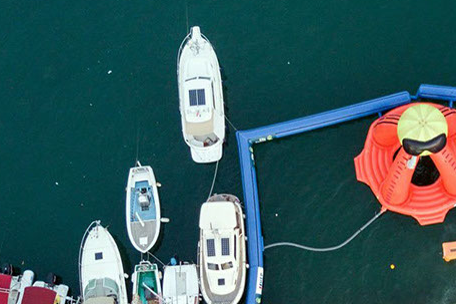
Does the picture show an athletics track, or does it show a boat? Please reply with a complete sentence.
The image shows a boat.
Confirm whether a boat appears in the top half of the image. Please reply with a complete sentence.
Yes, there is a boat in the top half of the image.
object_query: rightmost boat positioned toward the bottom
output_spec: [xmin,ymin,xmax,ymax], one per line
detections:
[196,196,250,304]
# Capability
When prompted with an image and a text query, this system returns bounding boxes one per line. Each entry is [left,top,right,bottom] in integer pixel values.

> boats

[19,279,76,304]
[132,256,165,304]
[126,142,165,253]
[0,266,33,304]
[149,253,200,304]
[178,9,240,195]
[196,196,250,304]
[74,218,134,304]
